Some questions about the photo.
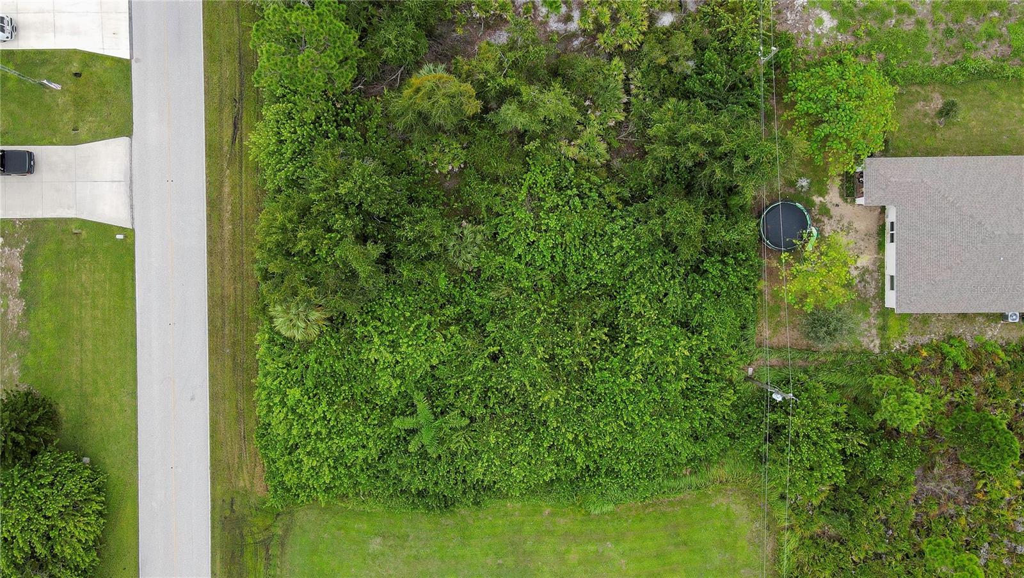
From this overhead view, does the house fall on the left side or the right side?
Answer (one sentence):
The house appears in the right half of the scene.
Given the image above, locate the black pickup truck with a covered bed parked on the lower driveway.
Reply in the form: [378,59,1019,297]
[0,149,39,175]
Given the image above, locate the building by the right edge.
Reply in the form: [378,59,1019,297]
[854,157,1024,314]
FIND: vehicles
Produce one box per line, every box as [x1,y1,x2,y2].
[0,149,39,175]
[0,15,19,42]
